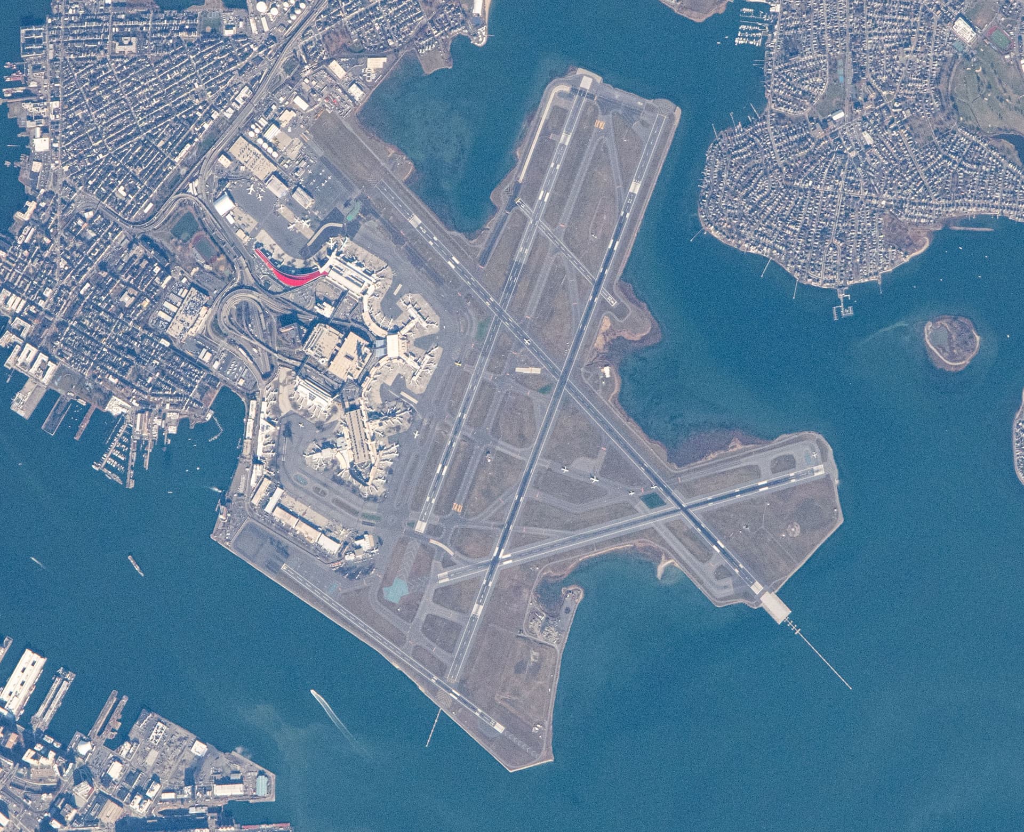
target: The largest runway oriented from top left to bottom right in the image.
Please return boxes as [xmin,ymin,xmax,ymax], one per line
[375,178,765,595]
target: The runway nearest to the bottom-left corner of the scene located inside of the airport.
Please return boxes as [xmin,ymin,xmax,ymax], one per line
[282,564,505,732]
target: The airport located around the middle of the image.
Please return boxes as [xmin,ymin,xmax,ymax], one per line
[211,68,842,771]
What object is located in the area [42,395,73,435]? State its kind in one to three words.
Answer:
pier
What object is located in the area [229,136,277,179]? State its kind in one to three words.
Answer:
building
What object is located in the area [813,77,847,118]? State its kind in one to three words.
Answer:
sports field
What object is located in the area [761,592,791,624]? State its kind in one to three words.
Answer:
pier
